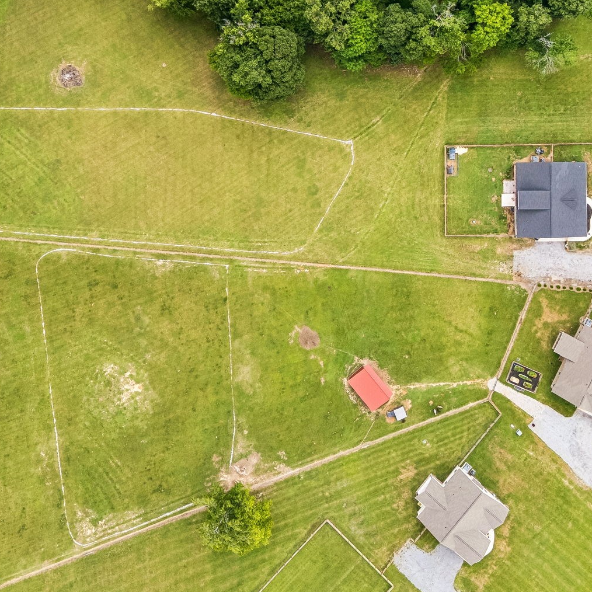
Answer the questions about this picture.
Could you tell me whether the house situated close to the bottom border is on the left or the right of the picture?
right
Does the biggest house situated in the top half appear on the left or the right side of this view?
right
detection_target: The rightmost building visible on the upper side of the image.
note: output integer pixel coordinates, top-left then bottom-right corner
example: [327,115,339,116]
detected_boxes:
[515,162,588,238]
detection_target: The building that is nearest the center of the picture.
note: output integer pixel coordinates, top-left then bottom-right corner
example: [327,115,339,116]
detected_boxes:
[349,364,392,411]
